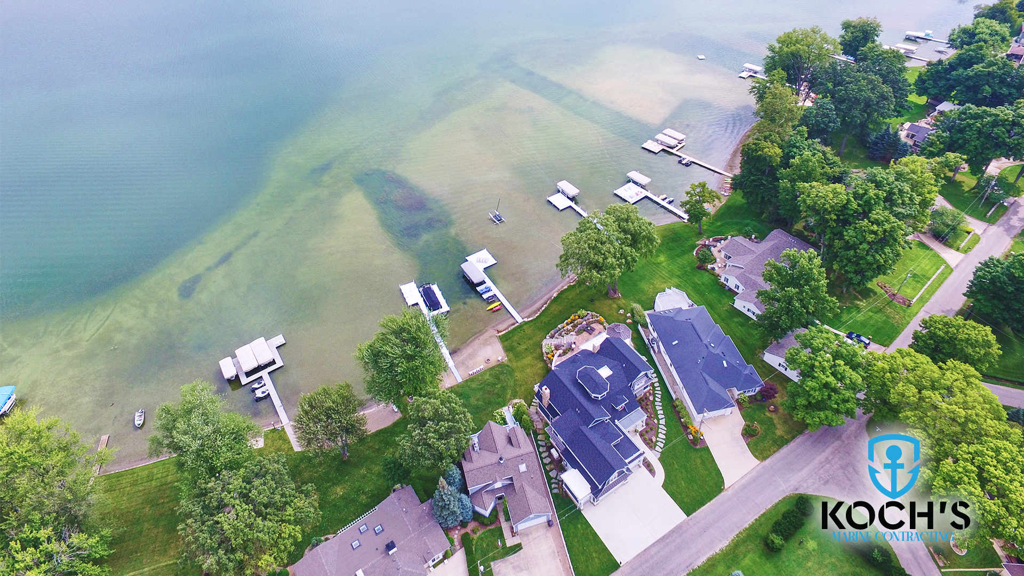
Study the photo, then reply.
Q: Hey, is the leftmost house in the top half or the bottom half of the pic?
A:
bottom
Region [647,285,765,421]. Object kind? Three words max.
house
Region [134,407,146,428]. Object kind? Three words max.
boat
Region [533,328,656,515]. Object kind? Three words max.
house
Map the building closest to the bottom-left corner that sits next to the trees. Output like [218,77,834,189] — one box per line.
[293,485,451,576]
